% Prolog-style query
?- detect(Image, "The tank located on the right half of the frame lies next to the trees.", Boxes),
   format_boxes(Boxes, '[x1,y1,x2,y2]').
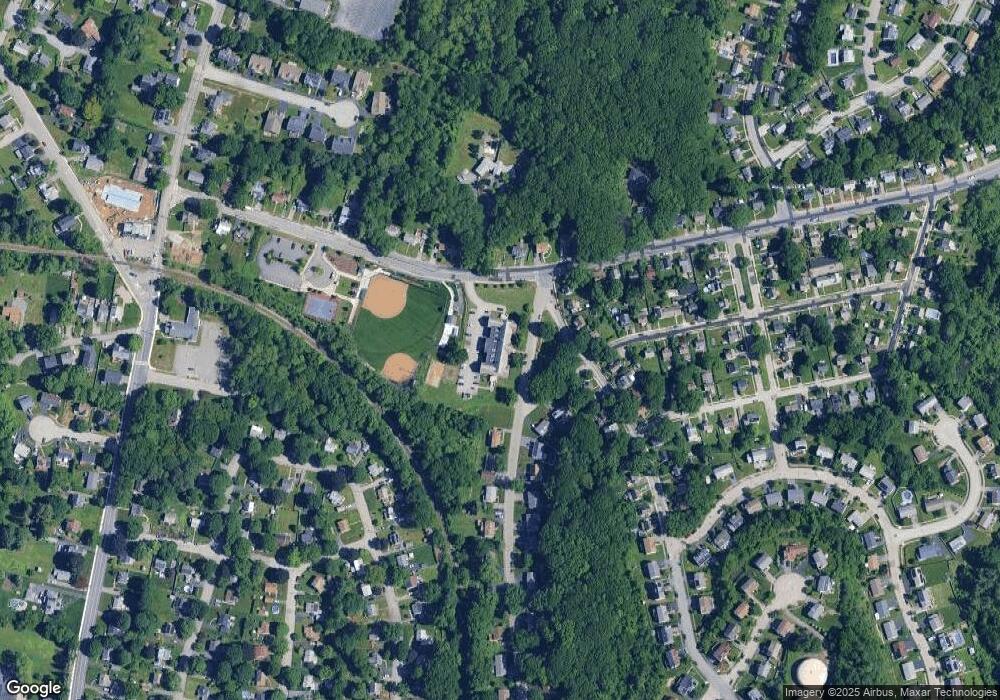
[799,658,827,687]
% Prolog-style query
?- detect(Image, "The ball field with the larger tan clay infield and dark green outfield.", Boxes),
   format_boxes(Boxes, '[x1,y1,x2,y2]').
[354,274,448,375]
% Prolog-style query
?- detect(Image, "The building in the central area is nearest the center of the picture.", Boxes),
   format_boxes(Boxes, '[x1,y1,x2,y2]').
[479,315,508,376]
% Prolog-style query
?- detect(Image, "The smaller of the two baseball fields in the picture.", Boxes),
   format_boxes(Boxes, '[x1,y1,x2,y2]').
[383,353,417,383]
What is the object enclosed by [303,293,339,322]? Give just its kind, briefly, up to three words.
basketball court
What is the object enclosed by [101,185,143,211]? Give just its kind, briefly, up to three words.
building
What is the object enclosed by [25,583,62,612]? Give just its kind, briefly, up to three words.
house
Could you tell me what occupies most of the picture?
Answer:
trees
